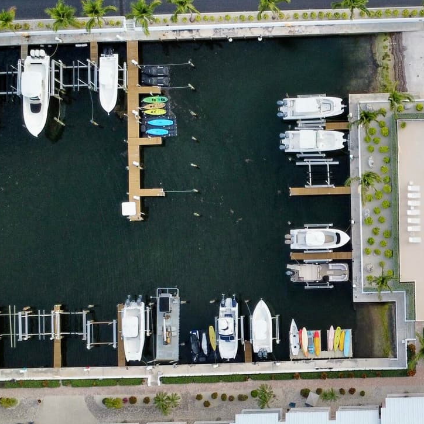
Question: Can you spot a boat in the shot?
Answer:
Yes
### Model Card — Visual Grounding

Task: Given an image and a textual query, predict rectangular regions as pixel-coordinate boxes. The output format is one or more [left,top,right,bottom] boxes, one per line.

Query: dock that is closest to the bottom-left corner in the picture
[54,304,66,368]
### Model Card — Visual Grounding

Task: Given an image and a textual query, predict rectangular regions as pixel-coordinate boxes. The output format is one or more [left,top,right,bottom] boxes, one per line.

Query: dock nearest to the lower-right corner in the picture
[289,328,354,359]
